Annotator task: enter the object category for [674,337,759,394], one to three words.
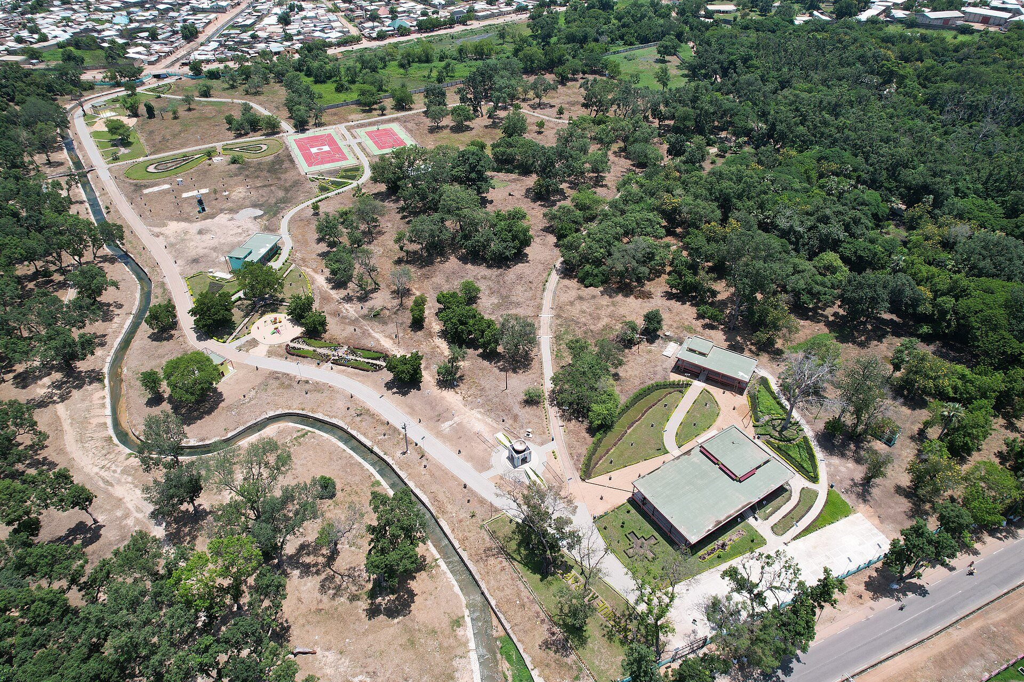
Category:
building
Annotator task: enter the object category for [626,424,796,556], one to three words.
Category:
building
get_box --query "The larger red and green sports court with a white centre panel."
[286,128,359,173]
